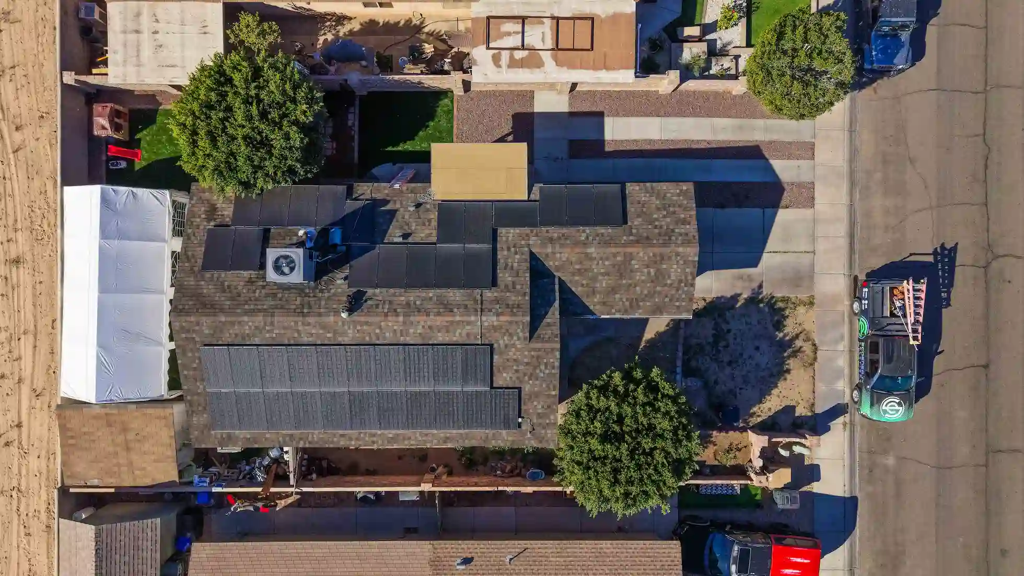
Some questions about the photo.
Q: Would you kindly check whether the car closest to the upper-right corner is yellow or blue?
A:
blue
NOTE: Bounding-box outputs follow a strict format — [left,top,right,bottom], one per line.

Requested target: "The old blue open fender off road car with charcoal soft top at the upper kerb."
[854,0,916,73]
